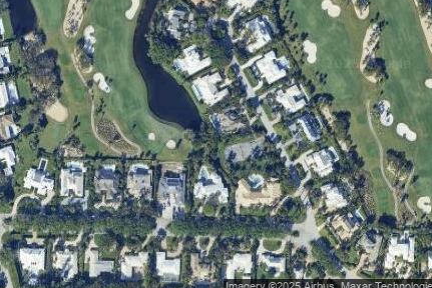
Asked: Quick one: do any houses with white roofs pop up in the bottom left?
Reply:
Yes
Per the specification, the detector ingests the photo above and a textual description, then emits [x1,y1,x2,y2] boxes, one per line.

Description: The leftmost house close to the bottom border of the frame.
[20,246,46,278]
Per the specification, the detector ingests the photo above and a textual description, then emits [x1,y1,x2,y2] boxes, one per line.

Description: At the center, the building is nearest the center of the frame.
[219,109,241,131]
